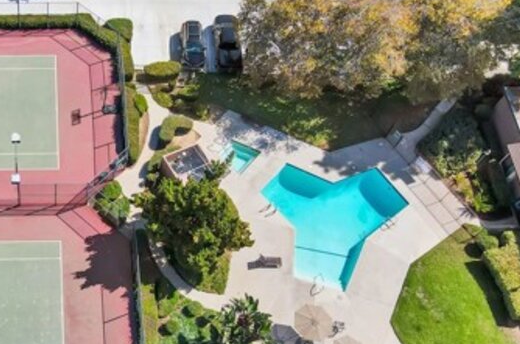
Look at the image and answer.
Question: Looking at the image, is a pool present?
Yes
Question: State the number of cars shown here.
2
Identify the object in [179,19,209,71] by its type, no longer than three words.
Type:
car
